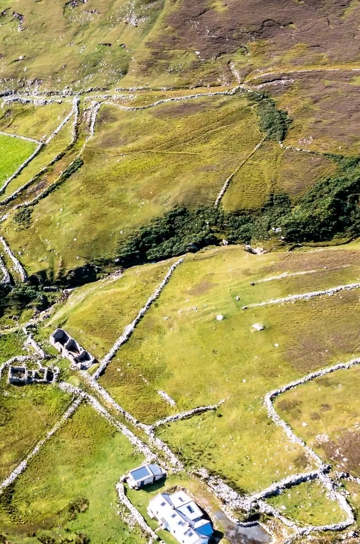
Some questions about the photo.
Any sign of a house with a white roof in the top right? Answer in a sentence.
No, no house with a white roof appears in the top right.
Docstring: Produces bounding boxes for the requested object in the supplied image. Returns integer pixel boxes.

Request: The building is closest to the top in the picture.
[49,325,95,371]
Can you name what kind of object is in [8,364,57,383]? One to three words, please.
house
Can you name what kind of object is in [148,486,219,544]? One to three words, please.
house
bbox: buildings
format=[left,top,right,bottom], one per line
[130,465,165,488]
[8,364,57,383]
[148,486,219,544]
[49,325,95,371]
